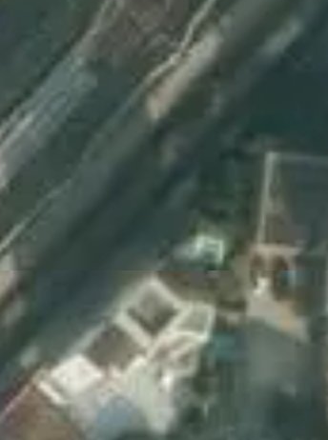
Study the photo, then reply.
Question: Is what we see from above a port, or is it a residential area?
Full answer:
The picture captures a residential area.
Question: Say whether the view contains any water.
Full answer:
No, there is no water in the image.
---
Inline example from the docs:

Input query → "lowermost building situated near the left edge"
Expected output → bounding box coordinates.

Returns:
[0,384,81,440]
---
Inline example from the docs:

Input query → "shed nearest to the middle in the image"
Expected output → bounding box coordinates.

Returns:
[176,230,229,268]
